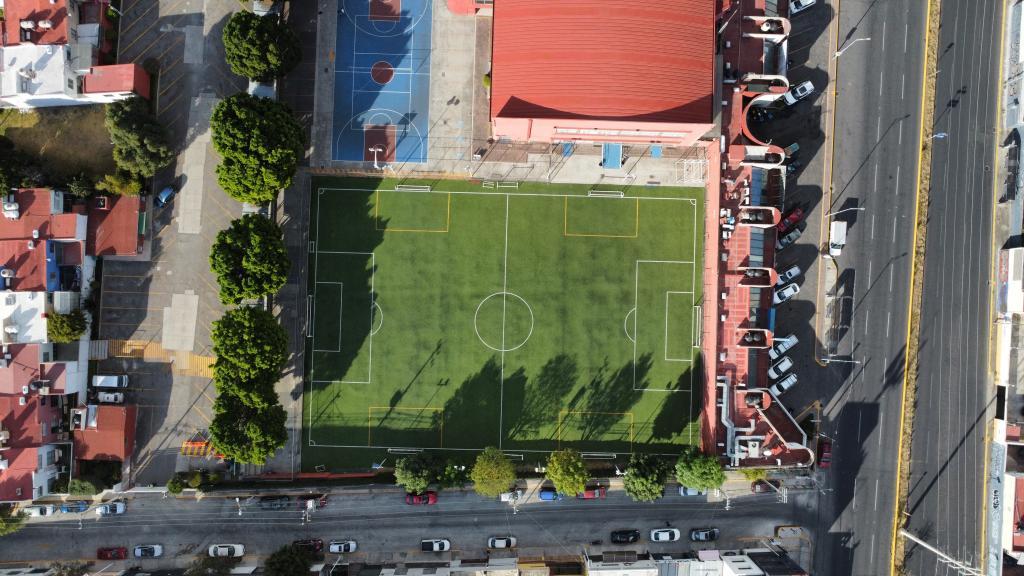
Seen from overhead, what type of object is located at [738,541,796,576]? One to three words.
house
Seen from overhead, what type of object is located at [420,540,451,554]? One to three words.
vehicle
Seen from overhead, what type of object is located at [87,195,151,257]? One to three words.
building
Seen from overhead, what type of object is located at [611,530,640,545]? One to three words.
car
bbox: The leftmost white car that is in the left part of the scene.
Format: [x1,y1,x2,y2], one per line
[22,505,54,520]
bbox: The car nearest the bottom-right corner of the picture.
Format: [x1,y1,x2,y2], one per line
[818,440,832,468]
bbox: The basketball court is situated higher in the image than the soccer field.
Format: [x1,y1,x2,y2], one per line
[332,0,432,163]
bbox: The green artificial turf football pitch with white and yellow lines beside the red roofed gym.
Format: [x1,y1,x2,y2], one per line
[301,178,704,472]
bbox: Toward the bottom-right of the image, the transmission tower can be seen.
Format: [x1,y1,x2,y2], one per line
[898,529,994,576]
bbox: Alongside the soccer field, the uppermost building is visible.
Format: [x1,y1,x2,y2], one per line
[487,0,721,141]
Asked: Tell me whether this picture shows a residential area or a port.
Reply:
residential area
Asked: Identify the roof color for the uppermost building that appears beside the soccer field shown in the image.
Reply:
red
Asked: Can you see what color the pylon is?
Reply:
white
